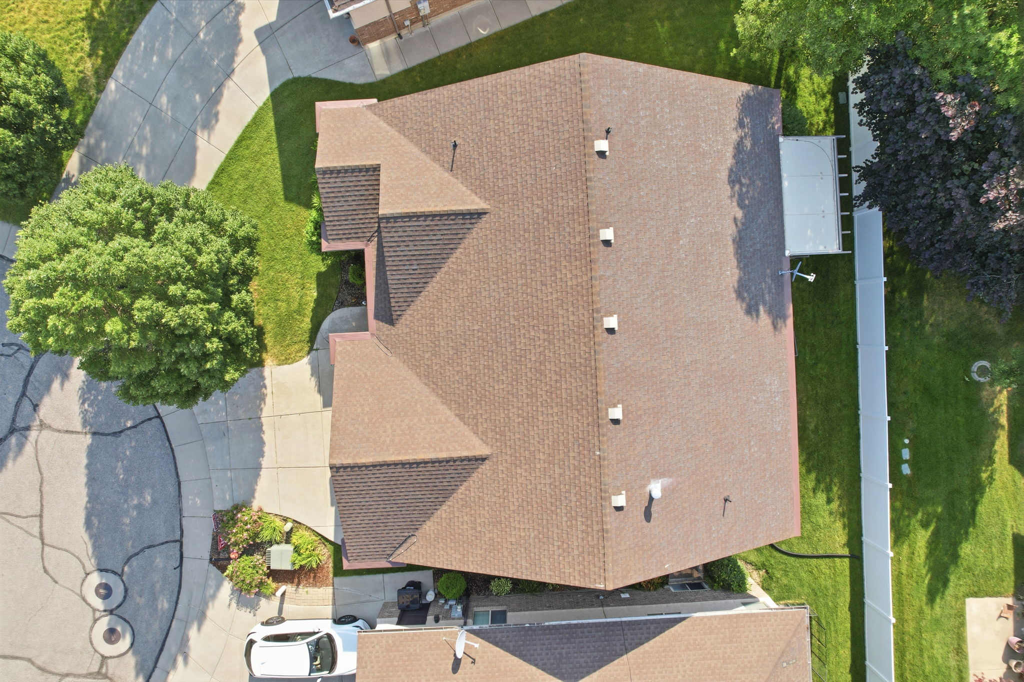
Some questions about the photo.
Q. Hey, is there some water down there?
No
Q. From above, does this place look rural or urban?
urban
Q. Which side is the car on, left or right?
left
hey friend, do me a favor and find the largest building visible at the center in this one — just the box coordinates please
[314,51,804,591]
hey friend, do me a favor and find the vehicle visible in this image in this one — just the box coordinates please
[245,616,371,682]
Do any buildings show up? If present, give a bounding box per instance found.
[356,585,813,682]
[314,51,804,591]
[322,0,488,49]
